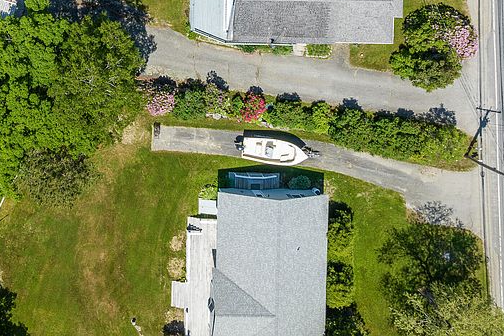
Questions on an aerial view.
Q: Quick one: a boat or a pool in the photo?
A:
boat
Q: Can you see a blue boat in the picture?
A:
No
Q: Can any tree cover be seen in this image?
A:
Yes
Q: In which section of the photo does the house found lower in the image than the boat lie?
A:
bottom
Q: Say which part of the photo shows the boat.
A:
center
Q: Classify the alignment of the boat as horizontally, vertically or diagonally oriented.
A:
horizontally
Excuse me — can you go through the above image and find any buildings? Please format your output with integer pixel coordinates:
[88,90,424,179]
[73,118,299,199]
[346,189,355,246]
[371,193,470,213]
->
[186,0,404,44]
[170,173,330,336]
